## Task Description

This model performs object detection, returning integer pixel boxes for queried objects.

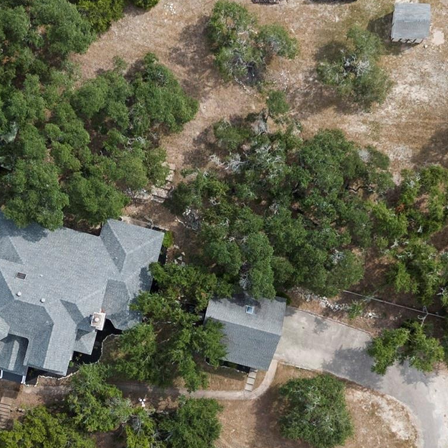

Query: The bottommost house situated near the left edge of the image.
[0,211,165,386]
